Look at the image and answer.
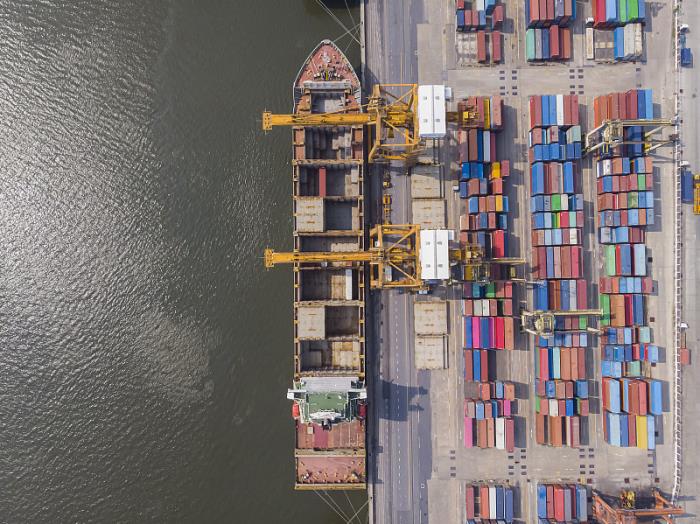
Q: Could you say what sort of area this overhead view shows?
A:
port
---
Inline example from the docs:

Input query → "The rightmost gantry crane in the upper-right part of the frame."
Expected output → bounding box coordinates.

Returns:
[581,119,673,157]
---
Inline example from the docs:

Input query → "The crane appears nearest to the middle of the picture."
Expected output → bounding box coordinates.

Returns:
[262,223,482,292]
